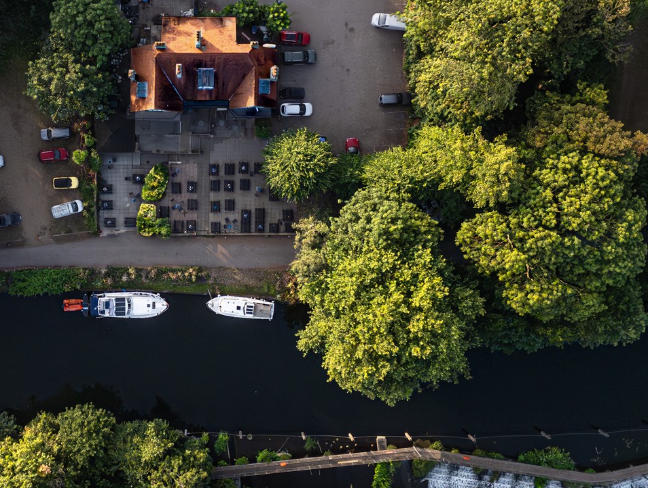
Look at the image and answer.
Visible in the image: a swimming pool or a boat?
boat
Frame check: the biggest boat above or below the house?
below it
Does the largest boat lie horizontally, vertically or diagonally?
horizontally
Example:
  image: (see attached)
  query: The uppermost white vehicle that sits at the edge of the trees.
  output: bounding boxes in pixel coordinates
[372,13,413,31]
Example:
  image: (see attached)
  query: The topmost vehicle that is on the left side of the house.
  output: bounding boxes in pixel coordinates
[40,126,71,140]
